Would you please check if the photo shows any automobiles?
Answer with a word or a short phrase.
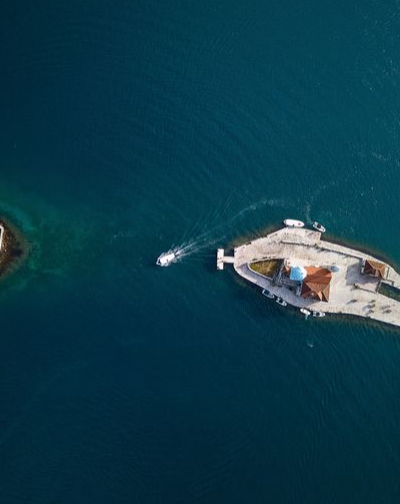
No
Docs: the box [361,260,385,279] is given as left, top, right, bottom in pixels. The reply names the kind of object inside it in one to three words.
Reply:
house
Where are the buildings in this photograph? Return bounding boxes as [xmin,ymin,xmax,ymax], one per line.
[361,260,385,279]
[283,266,331,302]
